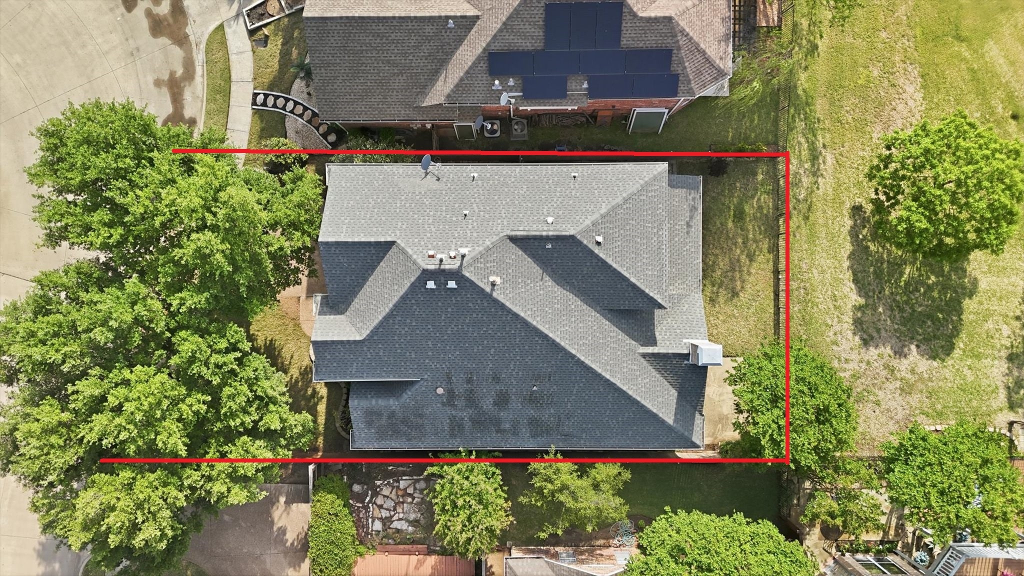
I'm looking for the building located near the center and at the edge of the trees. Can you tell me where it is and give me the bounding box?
[312,161,722,450]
